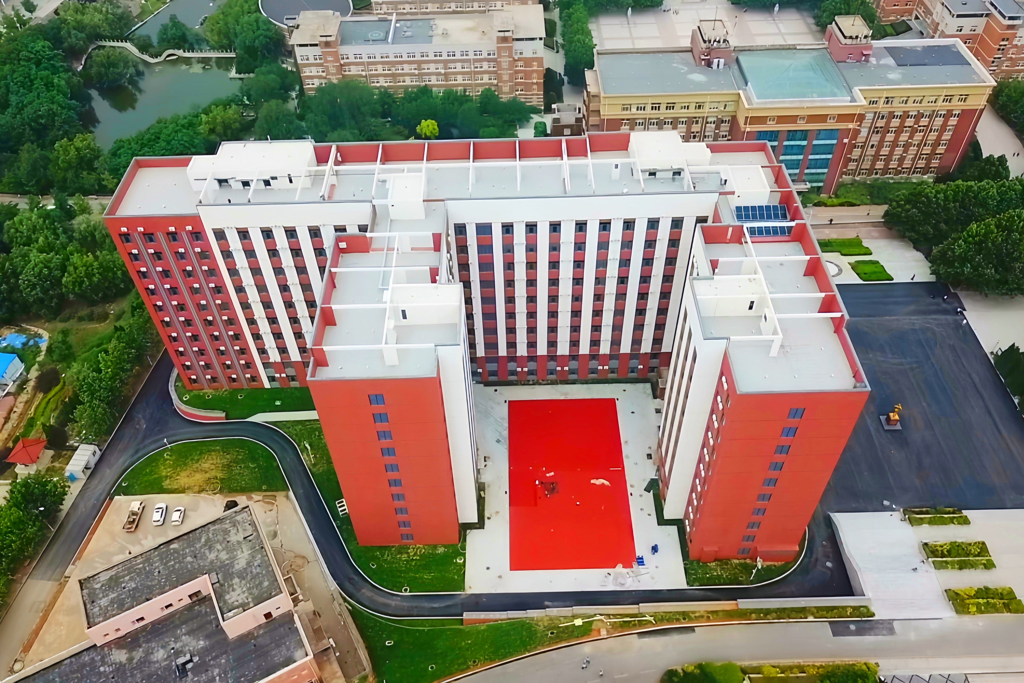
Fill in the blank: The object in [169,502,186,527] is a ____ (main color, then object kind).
white car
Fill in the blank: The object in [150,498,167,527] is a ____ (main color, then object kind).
white car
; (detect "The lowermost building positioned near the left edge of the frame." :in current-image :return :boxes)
[0,503,317,683]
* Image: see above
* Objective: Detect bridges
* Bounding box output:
[75,38,222,70]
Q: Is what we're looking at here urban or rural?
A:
urban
